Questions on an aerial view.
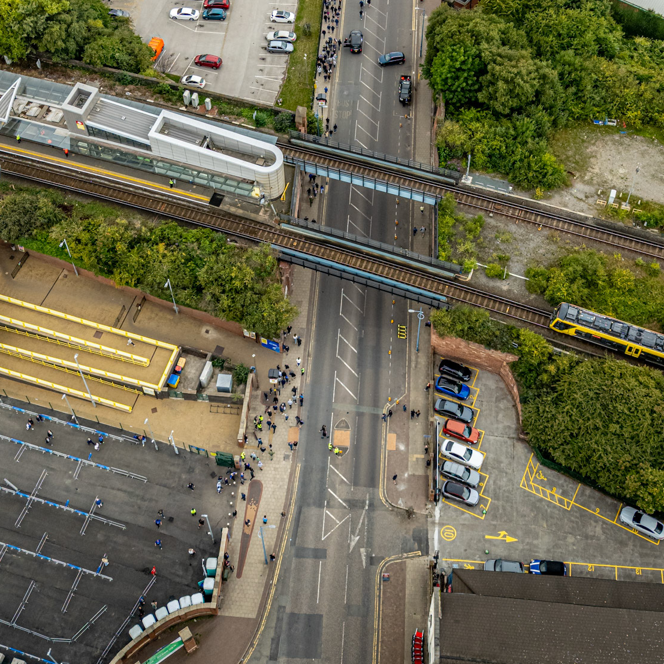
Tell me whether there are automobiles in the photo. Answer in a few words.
Yes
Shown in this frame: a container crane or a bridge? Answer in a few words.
bridge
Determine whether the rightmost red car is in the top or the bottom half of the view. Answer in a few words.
bottom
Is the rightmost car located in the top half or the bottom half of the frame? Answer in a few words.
bottom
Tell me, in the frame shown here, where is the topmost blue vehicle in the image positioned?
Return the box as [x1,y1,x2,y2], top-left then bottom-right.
[203,8,227,23]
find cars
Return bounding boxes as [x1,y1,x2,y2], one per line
[195,55,222,71]
[440,441,484,471]
[435,375,471,403]
[442,421,478,447]
[484,556,524,574]
[170,8,199,22]
[527,556,568,577]
[204,0,229,11]
[376,50,408,68]
[270,10,296,24]
[621,511,664,541]
[180,74,207,91]
[267,41,294,55]
[435,398,476,427]
[436,358,472,384]
[340,32,366,56]
[439,479,481,509]
[266,30,296,44]
[203,8,227,23]
[439,459,482,490]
